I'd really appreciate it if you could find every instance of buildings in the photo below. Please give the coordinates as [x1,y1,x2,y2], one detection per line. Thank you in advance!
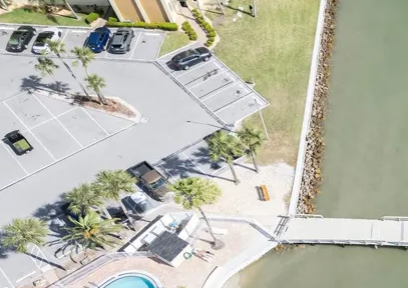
[0,0,233,26]
[121,209,198,268]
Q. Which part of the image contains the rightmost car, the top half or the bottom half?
top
